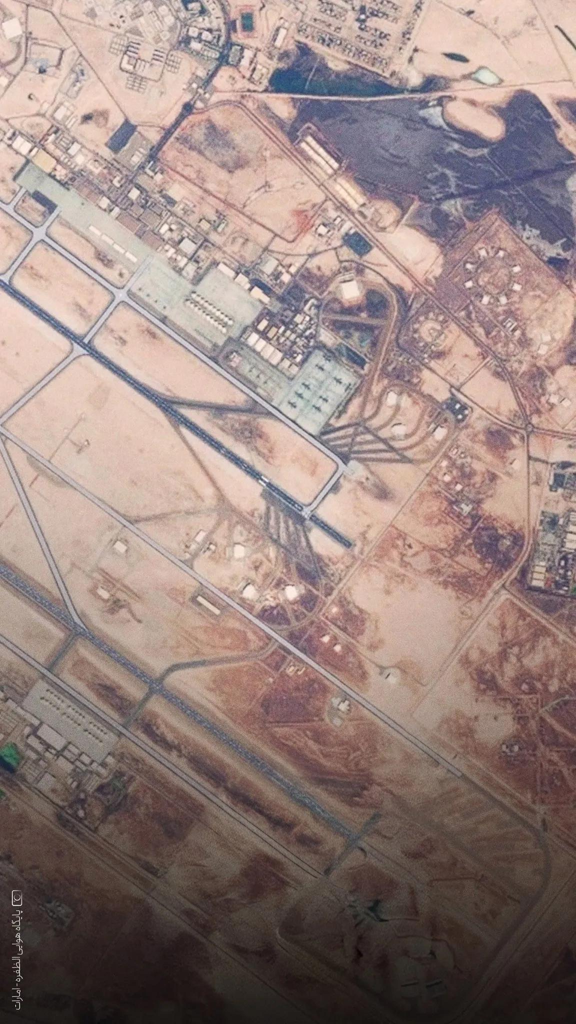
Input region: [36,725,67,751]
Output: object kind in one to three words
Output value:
hangar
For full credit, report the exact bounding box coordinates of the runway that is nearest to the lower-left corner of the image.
[0,567,358,844]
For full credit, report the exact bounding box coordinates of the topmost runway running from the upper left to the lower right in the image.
[0,281,305,511]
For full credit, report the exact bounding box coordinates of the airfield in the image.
[0,160,552,926]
